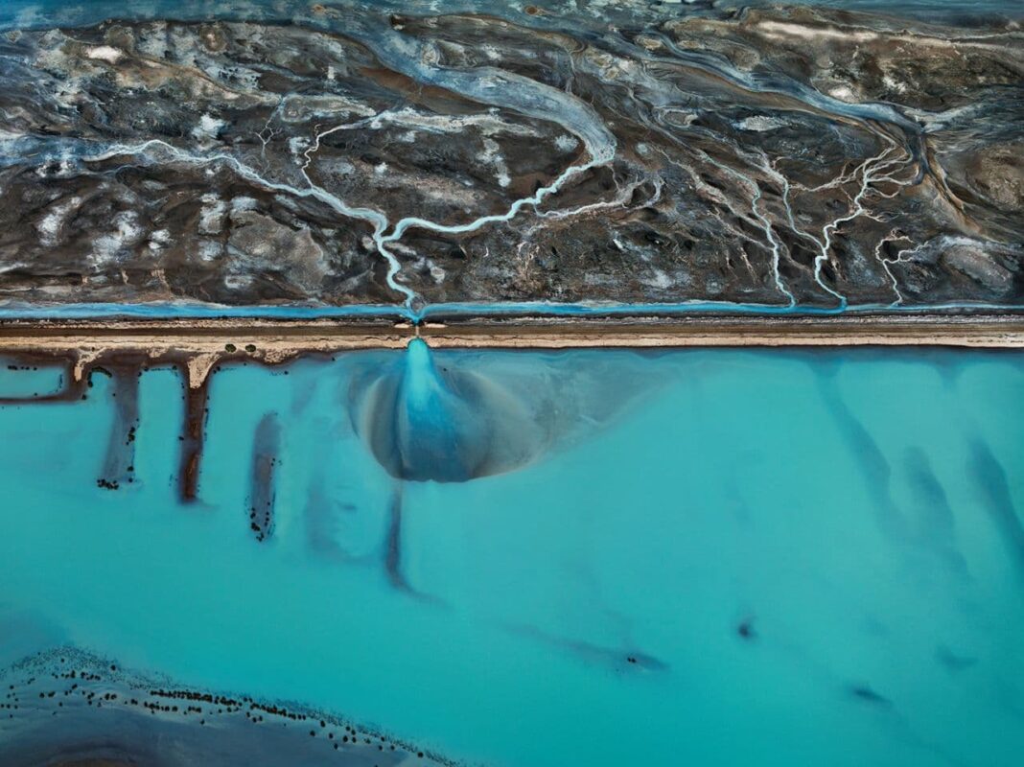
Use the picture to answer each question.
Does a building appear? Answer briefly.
No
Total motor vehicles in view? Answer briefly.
0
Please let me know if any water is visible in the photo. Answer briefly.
Yes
